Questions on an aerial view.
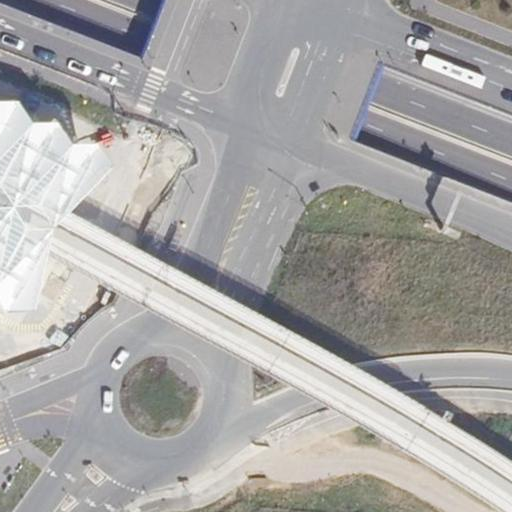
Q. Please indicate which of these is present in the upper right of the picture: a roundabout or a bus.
bus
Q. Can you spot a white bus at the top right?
Yes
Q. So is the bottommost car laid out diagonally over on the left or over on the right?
left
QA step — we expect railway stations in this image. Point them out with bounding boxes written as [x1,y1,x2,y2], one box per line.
[0,98,112,309]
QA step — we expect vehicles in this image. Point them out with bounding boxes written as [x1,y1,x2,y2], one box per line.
[0,34,24,50]
[162,220,177,243]
[110,348,130,370]
[96,70,118,86]
[407,36,430,51]
[32,46,56,62]
[67,59,92,74]
[411,22,435,37]
[102,390,113,413]
[421,52,485,88]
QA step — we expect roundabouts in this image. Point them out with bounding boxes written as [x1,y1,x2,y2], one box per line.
[87,324,233,470]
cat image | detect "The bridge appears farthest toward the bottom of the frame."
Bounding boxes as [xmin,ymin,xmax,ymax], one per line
[50,211,512,512]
